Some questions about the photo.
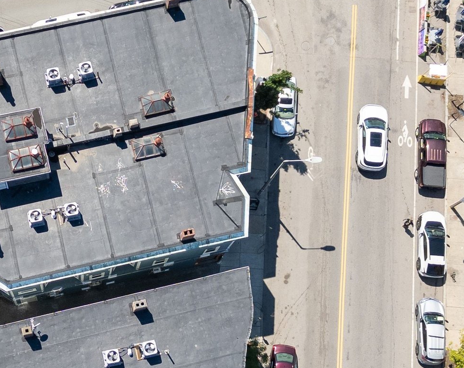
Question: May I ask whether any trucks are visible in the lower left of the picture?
No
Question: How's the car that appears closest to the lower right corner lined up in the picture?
vertically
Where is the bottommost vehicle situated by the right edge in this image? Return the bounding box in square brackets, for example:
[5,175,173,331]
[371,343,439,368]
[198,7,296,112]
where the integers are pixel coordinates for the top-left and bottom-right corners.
[415,298,449,365]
